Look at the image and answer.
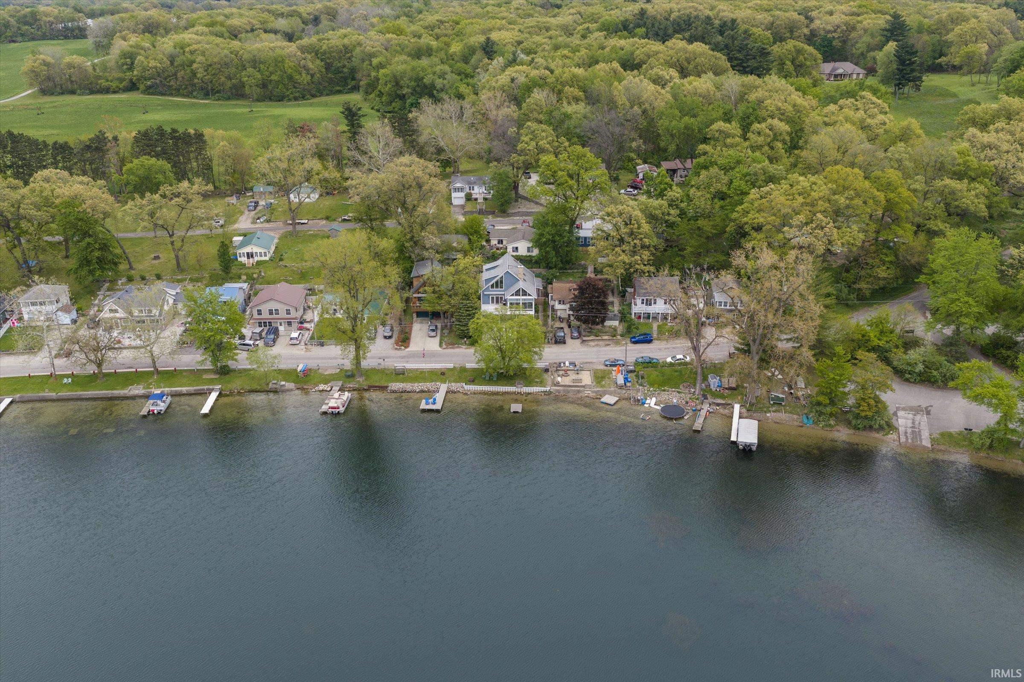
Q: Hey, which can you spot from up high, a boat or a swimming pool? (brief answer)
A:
boat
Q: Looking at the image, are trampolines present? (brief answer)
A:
Yes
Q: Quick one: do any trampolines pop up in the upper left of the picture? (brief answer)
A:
No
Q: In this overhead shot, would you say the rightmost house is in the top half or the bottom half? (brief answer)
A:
top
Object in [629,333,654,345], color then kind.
blue vehicle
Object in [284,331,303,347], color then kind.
white car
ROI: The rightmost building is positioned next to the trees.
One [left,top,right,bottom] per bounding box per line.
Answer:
[814,60,868,81]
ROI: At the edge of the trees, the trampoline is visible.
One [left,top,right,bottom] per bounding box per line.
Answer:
[659,400,688,425]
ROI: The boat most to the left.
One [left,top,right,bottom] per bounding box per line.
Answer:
[148,385,174,418]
